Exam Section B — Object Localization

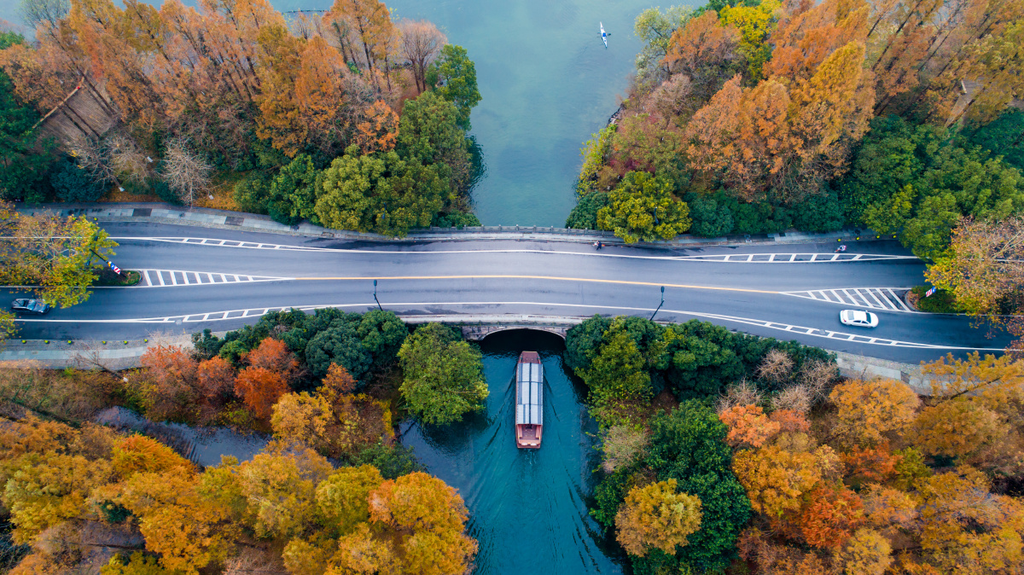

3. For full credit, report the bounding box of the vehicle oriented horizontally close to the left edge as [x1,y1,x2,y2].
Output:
[10,297,51,315]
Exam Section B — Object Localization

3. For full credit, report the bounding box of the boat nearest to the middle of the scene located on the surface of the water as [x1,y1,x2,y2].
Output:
[516,351,542,450]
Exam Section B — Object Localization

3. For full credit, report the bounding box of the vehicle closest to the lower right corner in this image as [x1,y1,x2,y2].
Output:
[839,310,878,327]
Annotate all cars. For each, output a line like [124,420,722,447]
[839,310,878,327]
[10,297,51,315]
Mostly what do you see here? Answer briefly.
trees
